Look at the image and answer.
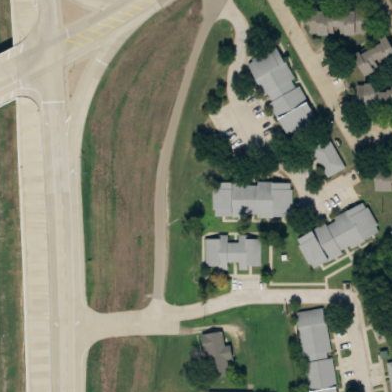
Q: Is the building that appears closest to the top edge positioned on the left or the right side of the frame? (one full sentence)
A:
You can find the building that appears closest to the top edge on the right side of the picture.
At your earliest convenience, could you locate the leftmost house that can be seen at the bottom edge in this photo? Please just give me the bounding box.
[202,333,233,376]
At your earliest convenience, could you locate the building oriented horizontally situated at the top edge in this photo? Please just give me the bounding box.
[306,11,364,36]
